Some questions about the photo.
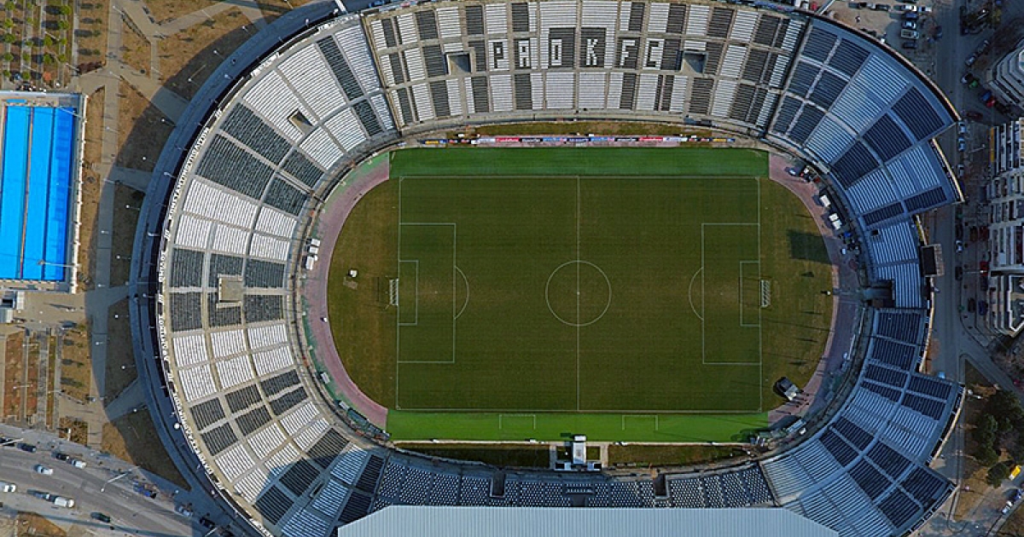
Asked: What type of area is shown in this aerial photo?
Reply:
sports ground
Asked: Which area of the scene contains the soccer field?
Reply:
center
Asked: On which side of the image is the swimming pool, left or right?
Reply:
left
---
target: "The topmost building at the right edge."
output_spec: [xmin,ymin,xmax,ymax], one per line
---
[989,31,1024,112]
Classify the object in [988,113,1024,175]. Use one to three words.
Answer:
building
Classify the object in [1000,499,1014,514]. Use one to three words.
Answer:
car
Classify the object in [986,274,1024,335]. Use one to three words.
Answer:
building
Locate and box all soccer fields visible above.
[328,149,833,442]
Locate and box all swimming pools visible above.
[0,90,91,293]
